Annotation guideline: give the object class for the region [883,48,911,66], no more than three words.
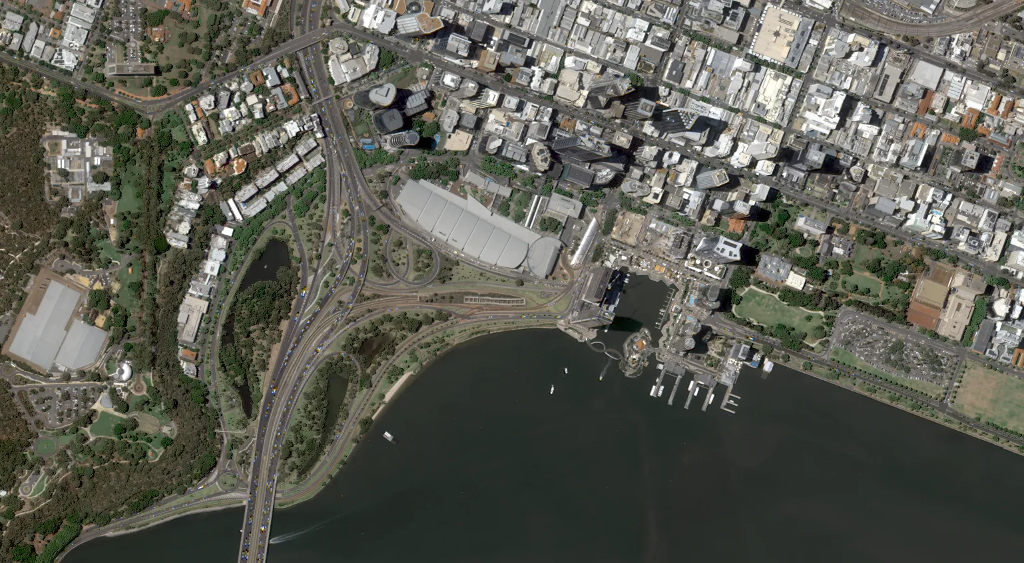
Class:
building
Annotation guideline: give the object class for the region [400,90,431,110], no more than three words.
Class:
building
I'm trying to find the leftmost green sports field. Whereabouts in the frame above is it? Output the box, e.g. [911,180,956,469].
[734,288,829,344]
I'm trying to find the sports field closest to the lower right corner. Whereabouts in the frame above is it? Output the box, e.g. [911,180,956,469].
[953,358,1024,426]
